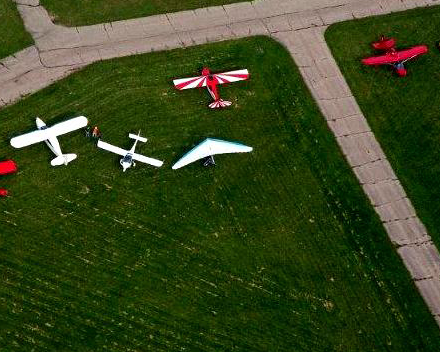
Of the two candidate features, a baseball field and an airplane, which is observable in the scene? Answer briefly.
airplane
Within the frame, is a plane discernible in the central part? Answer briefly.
Yes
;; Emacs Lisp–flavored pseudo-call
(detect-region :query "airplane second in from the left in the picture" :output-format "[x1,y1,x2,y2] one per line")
[98,131,166,175]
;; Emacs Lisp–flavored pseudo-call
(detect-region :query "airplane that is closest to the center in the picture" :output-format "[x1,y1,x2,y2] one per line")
[172,140,255,171]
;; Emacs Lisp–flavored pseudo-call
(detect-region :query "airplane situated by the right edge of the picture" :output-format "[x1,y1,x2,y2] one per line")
[362,40,429,74]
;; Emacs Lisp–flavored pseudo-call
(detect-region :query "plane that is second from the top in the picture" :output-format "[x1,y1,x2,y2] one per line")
[171,66,252,107]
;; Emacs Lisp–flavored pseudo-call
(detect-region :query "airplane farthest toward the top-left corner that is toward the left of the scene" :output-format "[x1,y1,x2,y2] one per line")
[9,115,91,167]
